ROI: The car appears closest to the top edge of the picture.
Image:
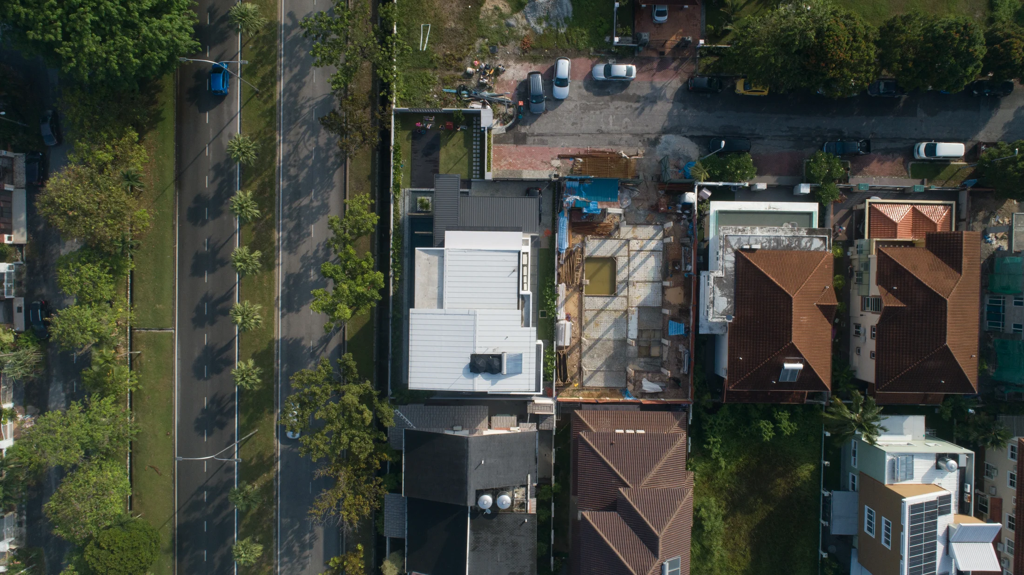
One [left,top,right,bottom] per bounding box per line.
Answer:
[650,6,671,30]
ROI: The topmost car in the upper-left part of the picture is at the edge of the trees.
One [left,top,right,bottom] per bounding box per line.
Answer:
[209,63,231,98]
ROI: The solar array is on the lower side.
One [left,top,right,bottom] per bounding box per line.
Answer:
[910,501,950,575]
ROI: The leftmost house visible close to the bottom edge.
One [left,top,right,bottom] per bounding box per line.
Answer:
[384,399,554,575]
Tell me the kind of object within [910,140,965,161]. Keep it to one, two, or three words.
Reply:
vehicle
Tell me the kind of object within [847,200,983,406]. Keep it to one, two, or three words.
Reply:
house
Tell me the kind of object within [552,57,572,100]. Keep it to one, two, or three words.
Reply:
car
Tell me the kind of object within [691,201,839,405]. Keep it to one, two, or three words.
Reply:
house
